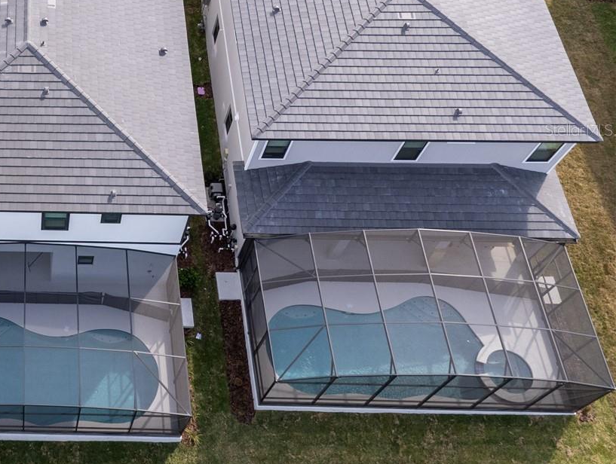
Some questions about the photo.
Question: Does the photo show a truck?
No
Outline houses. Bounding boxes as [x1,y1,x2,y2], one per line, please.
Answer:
[0,0,211,281]
[201,0,603,266]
